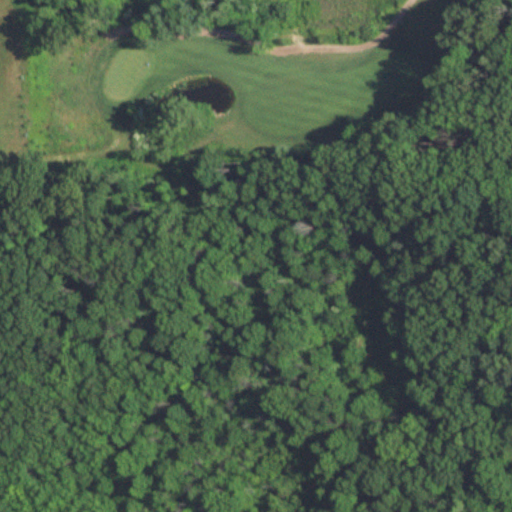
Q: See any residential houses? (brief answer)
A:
No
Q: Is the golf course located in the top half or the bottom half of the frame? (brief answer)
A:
top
